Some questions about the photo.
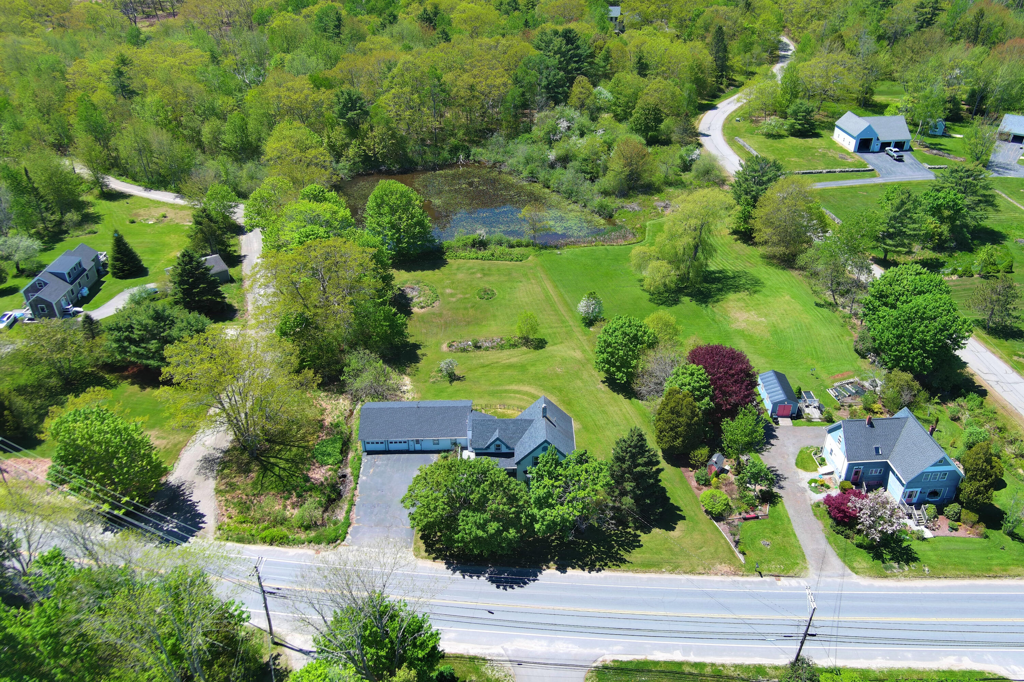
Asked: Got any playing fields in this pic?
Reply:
No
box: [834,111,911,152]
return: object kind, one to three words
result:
building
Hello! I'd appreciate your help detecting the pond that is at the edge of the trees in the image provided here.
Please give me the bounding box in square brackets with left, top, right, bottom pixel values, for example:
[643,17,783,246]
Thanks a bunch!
[328,164,609,258]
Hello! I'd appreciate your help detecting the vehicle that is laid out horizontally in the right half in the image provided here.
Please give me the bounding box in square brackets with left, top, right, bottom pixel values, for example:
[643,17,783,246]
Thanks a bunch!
[881,147,907,159]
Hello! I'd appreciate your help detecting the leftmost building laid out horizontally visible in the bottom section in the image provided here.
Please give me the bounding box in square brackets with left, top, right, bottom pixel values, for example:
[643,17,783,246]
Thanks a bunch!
[359,393,576,485]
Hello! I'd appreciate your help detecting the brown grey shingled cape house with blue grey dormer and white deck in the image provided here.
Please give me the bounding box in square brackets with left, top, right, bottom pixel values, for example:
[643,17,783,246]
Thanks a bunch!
[18,240,112,318]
